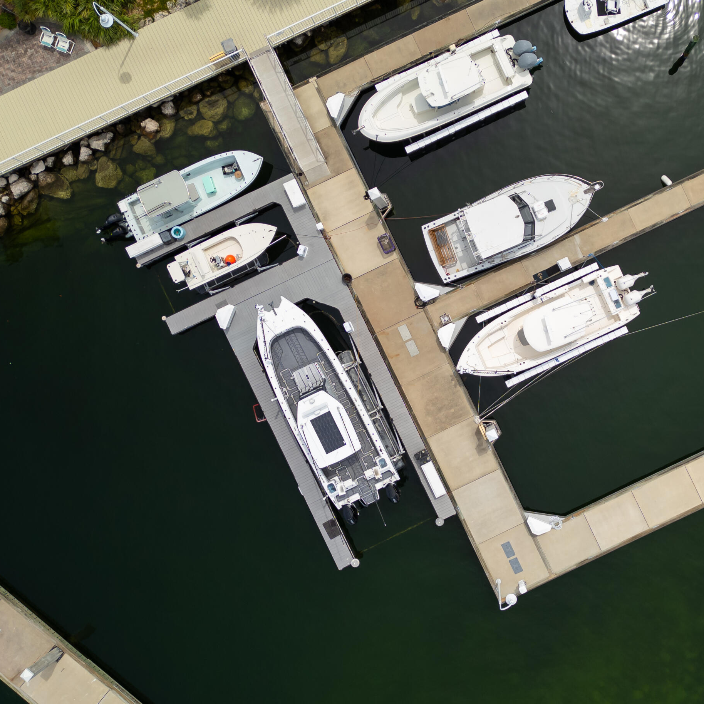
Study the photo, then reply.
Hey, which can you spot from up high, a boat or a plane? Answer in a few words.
boat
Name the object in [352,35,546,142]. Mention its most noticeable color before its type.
white boat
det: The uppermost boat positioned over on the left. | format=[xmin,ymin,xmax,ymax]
[95,150,263,244]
